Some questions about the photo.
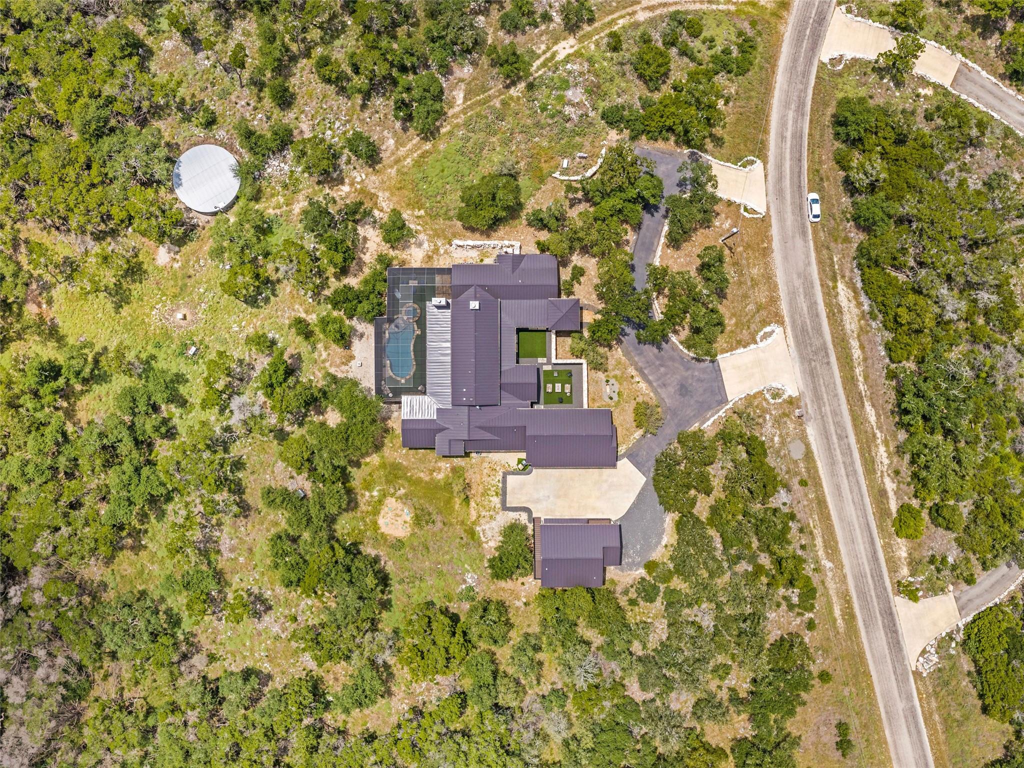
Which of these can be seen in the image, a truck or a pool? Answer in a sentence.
This aerial view contains a pool.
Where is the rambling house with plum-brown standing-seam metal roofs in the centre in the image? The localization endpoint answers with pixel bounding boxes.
[401,254,616,468]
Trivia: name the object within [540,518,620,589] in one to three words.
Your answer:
shed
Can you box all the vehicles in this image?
[806,193,822,223]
